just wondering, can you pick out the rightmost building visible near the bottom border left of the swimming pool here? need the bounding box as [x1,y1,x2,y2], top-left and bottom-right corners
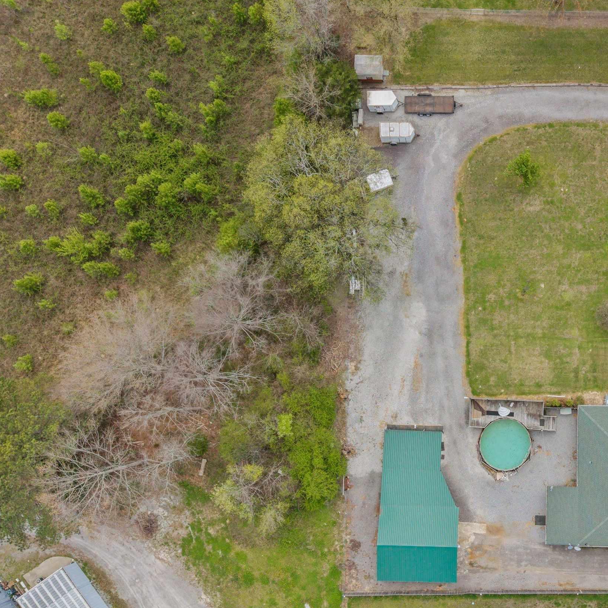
[376,424,459,582]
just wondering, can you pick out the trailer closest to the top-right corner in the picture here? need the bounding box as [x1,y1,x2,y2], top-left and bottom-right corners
[404,93,465,118]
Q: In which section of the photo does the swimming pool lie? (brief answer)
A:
bottom right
